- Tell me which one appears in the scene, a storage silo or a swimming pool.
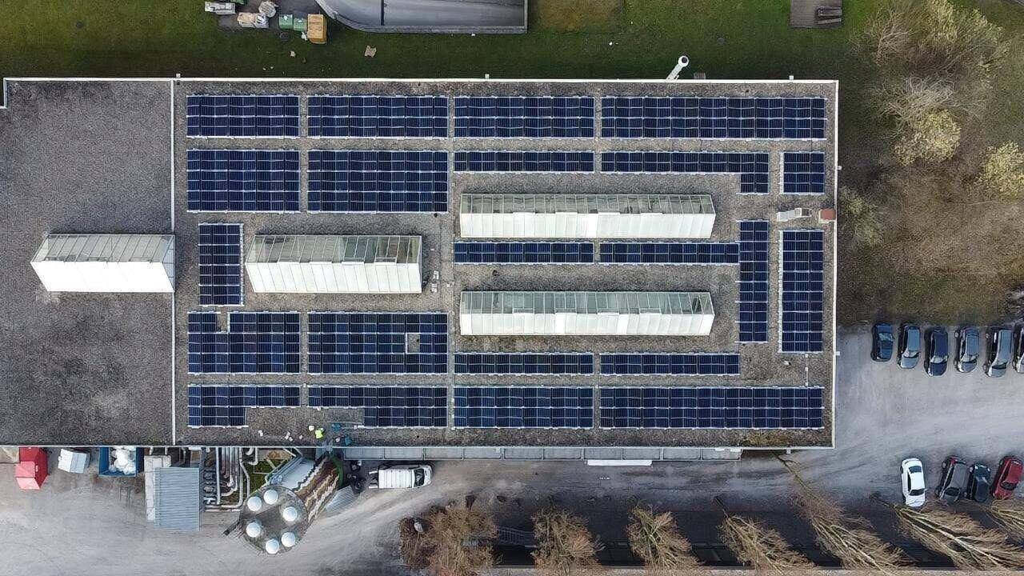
storage silo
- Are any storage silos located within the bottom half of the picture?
Yes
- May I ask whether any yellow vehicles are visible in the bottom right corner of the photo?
No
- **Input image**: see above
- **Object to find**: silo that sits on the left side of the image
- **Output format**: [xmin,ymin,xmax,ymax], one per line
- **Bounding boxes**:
[221,446,348,554]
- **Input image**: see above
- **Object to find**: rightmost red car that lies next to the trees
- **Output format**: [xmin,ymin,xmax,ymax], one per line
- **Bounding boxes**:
[990,455,1020,499]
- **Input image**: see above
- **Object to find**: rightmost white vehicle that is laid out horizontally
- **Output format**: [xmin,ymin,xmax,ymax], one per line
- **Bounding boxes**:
[368,464,432,490]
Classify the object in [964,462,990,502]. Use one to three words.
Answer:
car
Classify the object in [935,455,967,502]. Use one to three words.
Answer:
car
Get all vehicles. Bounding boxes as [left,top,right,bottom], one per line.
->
[983,328,1011,376]
[871,324,895,361]
[935,455,967,502]
[923,329,950,375]
[368,464,432,490]
[990,455,1020,499]
[1011,327,1024,371]
[896,324,922,368]
[952,327,979,372]
[964,462,990,502]
[898,458,926,505]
